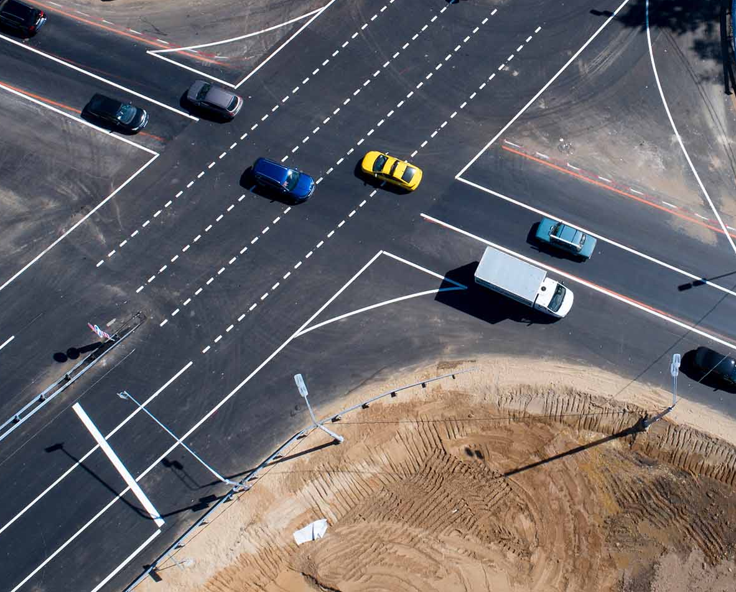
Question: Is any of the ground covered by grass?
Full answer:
No, no grass is visible.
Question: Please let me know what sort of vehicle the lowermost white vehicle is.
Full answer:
The lowermost white vehicle in the image is a truck.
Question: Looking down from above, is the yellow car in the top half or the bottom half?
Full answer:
You can find the yellow car in the top half.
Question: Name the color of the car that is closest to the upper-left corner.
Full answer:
In this view, the car that is closest to the upper-left corner is black.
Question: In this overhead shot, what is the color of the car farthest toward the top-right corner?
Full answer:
The color of the car farthest toward the top-right corner is blue.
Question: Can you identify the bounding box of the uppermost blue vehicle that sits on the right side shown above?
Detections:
[533,219,597,261]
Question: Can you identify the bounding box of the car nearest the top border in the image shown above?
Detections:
[0,0,49,35]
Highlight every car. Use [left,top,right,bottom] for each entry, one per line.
[0,0,49,35]
[360,150,423,189]
[253,154,317,197]
[188,84,247,120]
[533,219,597,261]
[688,343,736,386]
[85,90,149,129]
